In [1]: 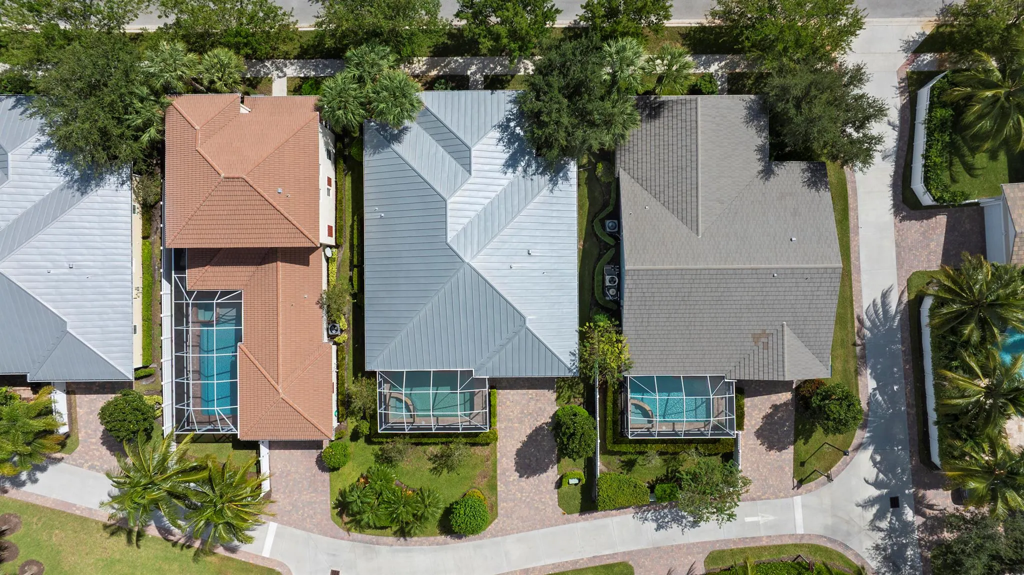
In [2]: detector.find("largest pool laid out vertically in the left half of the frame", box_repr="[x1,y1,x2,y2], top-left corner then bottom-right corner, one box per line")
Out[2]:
[197,304,241,419]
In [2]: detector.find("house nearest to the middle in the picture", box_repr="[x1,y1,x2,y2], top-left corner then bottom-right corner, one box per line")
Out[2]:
[363,89,580,377]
